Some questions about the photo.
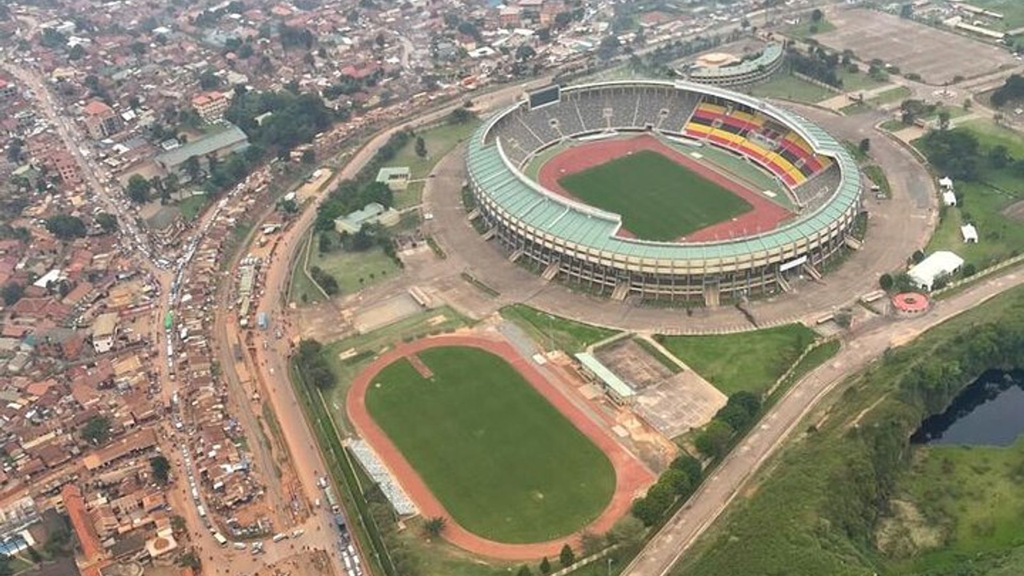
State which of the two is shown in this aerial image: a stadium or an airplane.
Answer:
stadium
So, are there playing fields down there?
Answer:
Yes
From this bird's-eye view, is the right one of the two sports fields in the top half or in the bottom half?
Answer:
top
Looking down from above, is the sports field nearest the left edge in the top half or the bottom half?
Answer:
bottom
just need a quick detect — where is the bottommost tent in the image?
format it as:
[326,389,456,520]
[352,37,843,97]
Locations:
[908,250,965,286]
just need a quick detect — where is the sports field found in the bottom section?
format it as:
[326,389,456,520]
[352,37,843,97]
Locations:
[365,345,616,544]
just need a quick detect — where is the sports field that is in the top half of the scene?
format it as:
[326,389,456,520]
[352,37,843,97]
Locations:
[560,149,755,240]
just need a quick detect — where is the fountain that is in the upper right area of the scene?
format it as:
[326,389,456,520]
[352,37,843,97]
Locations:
[929,85,957,99]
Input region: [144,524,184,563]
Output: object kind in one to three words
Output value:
building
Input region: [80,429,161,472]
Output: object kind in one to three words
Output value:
shed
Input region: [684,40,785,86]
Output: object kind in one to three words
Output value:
stadium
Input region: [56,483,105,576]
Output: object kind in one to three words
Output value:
house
